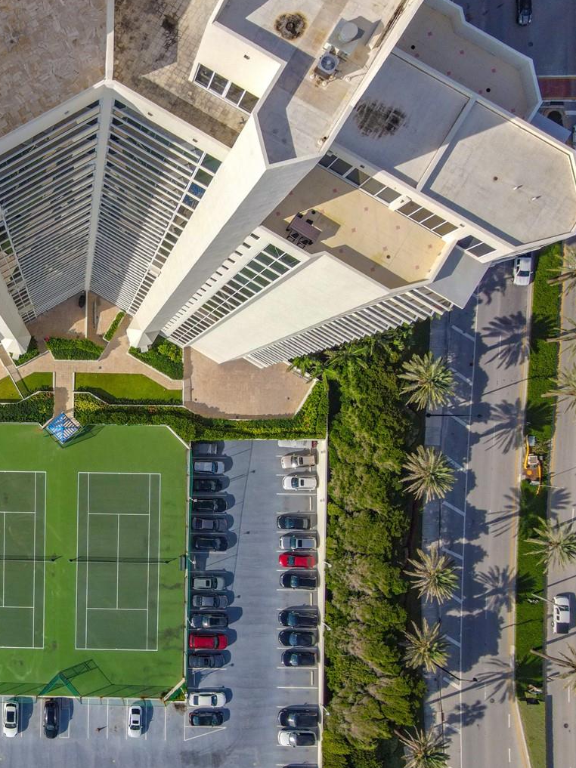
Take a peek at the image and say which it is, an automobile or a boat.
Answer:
automobile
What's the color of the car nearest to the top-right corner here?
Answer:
black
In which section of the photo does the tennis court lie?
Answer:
bottom left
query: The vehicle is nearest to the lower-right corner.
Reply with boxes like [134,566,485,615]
[550,592,571,635]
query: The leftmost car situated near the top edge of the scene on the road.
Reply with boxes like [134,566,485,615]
[515,0,535,28]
